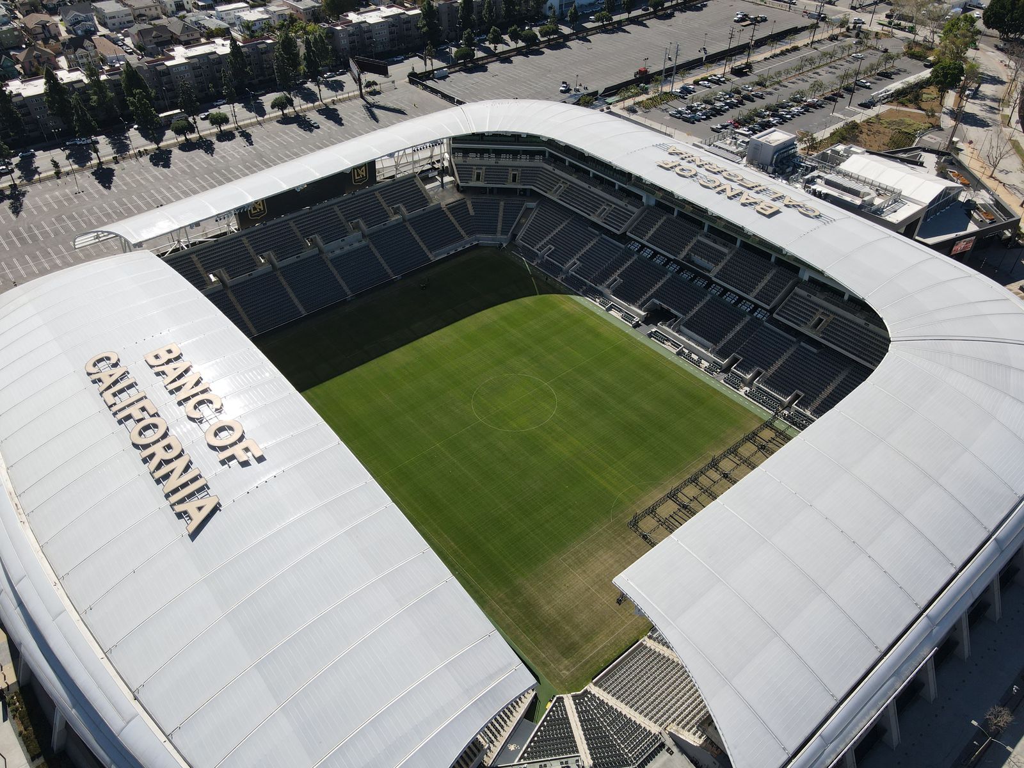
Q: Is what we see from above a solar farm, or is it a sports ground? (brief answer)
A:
sports ground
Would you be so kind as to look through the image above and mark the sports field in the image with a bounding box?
[246,244,795,687]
